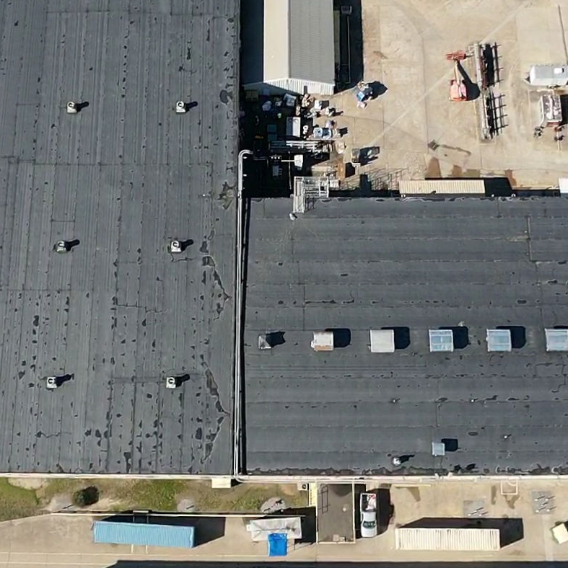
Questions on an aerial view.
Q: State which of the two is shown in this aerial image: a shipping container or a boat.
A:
shipping container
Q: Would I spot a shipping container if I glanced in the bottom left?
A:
Yes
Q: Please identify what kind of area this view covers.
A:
industrial area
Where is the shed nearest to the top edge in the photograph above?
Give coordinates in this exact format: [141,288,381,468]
[244,0,335,97]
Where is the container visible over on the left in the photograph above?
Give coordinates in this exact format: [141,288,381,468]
[93,521,198,548]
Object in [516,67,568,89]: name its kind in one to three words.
trailer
